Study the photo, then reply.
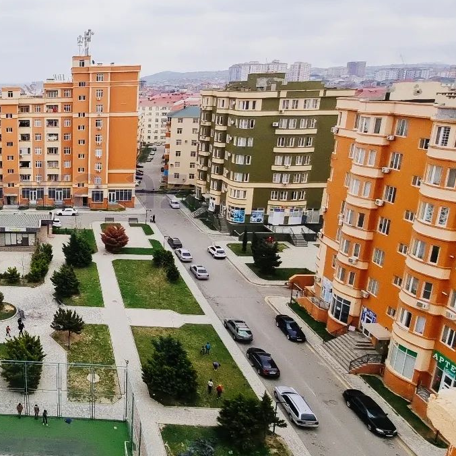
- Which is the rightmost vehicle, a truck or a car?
car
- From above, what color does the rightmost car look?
black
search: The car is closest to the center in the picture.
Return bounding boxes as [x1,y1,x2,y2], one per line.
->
[206,243,227,256]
